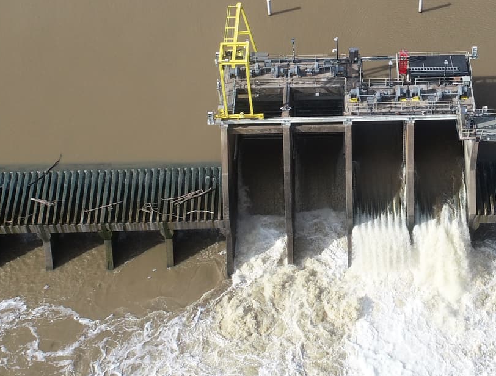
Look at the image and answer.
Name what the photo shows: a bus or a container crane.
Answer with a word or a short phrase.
container crane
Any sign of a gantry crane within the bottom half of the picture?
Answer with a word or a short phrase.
No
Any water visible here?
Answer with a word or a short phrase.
Yes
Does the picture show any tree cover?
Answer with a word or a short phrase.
No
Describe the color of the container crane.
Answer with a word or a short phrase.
yellow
